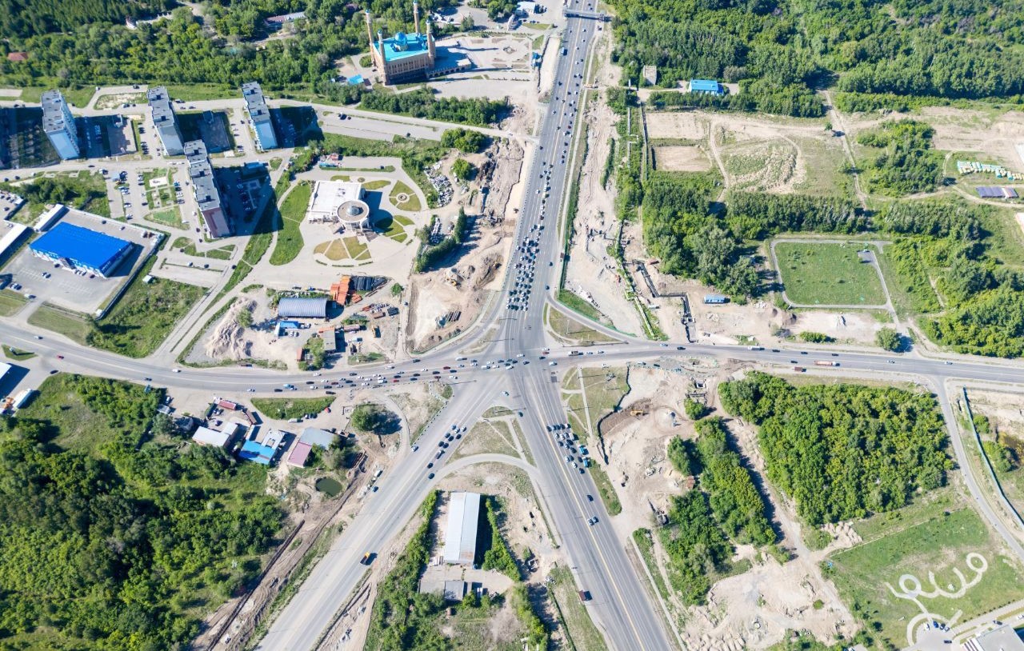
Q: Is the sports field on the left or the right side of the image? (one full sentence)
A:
The sports field sits on the right side.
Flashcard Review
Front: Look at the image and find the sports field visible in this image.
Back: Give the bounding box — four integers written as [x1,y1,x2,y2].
[770,239,904,329]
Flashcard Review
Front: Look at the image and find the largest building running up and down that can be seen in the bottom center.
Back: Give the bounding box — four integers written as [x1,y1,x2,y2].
[443,492,480,568]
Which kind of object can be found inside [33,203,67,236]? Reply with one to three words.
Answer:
shed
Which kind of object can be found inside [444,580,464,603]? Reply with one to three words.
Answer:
building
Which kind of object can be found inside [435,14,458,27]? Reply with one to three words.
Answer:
airplane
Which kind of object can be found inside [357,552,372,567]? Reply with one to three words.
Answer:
vehicle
